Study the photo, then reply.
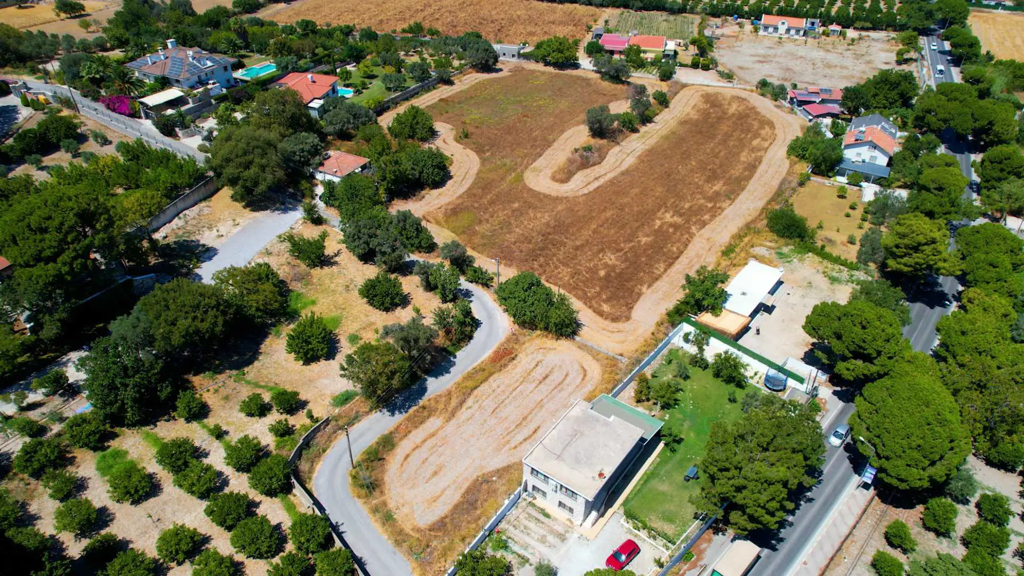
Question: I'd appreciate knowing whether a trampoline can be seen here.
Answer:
Yes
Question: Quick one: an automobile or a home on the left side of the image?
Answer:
home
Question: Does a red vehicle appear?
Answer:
Yes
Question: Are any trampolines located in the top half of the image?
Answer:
No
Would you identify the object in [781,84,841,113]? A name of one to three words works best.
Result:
house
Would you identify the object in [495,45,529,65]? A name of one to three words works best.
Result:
shed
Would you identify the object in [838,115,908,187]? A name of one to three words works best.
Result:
house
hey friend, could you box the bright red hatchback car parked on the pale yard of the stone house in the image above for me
[607,534,644,569]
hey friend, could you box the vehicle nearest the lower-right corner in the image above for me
[828,420,854,447]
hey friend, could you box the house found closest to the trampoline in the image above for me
[708,255,775,335]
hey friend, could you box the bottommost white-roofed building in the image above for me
[518,393,665,546]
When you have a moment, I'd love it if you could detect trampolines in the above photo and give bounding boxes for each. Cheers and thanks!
[763,368,789,396]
